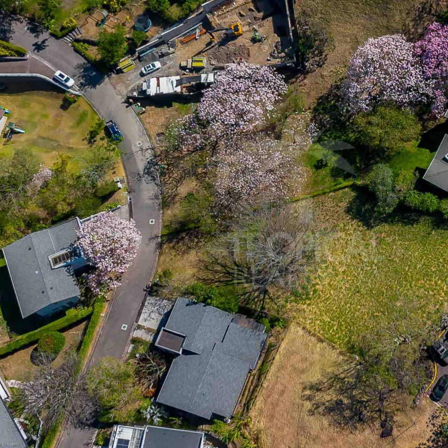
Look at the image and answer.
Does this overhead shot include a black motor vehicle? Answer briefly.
Yes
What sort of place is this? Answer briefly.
residential area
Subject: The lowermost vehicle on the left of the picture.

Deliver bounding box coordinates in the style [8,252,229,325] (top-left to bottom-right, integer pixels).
[105,118,123,144]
